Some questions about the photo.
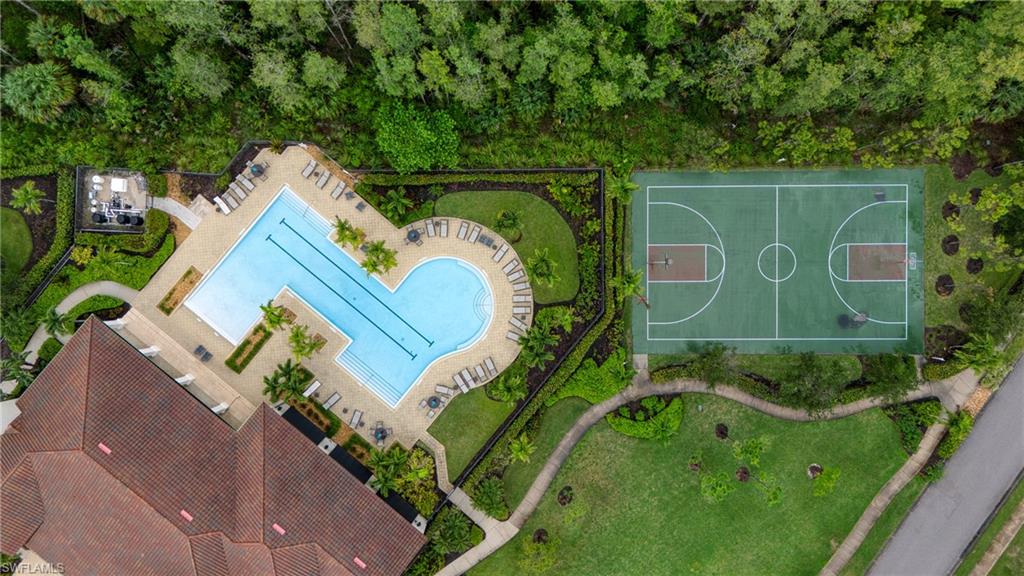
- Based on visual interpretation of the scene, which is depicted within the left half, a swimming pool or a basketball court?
swimming pool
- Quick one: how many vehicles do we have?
zero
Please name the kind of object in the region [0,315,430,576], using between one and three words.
building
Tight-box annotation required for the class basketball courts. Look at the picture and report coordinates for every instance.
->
[632,169,925,355]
